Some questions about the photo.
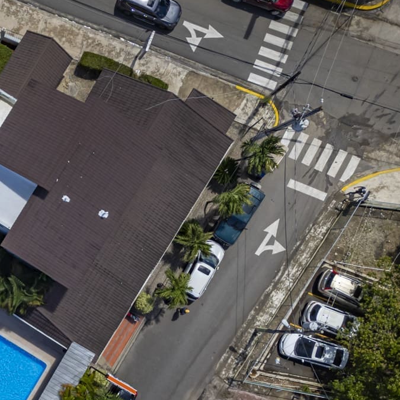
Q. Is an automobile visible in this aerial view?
Yes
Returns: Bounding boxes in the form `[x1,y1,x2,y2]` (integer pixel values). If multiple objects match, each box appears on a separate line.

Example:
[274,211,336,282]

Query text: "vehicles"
[126,313,147,329]
[302,268,373,310]
[180,236,231,307]
[212,180,268,247]
[111,0,184,33]
[274,333,351,371]
[291,302,359,344]
[226,0,291,17]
